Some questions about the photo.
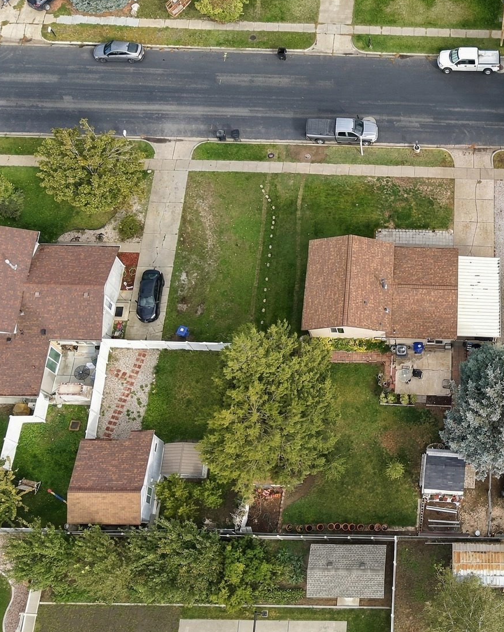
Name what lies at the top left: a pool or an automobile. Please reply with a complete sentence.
It is an automobile that can be seen at the top left.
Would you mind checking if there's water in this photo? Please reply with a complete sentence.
No, the picture contains no water.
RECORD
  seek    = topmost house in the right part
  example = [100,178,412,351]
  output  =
[298,233,502,360]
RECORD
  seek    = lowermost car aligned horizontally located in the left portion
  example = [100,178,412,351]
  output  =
[90,42,141,66]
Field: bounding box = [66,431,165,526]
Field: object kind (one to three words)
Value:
building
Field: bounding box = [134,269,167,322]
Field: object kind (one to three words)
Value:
car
